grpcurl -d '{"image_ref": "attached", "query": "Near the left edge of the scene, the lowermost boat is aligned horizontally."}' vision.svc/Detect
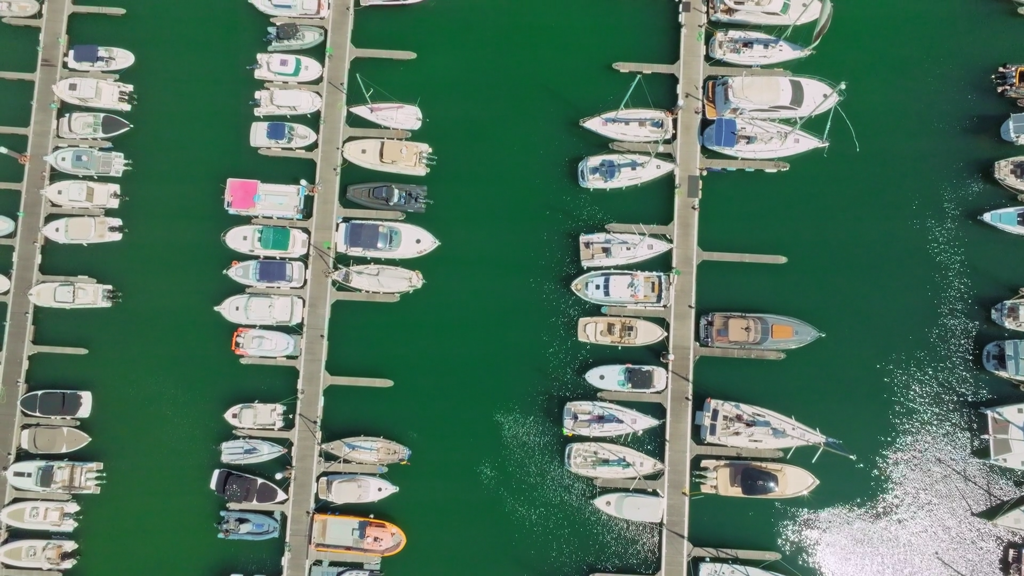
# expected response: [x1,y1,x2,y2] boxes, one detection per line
[0,539,90,568]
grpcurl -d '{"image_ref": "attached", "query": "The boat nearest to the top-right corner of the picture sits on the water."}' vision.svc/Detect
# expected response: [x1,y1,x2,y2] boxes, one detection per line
[988,67,1024,97]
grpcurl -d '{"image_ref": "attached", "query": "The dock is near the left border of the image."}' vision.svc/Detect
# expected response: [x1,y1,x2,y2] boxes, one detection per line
[0,0,129,576]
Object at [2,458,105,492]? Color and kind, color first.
white boat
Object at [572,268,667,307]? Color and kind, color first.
white boat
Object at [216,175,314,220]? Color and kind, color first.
white ship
